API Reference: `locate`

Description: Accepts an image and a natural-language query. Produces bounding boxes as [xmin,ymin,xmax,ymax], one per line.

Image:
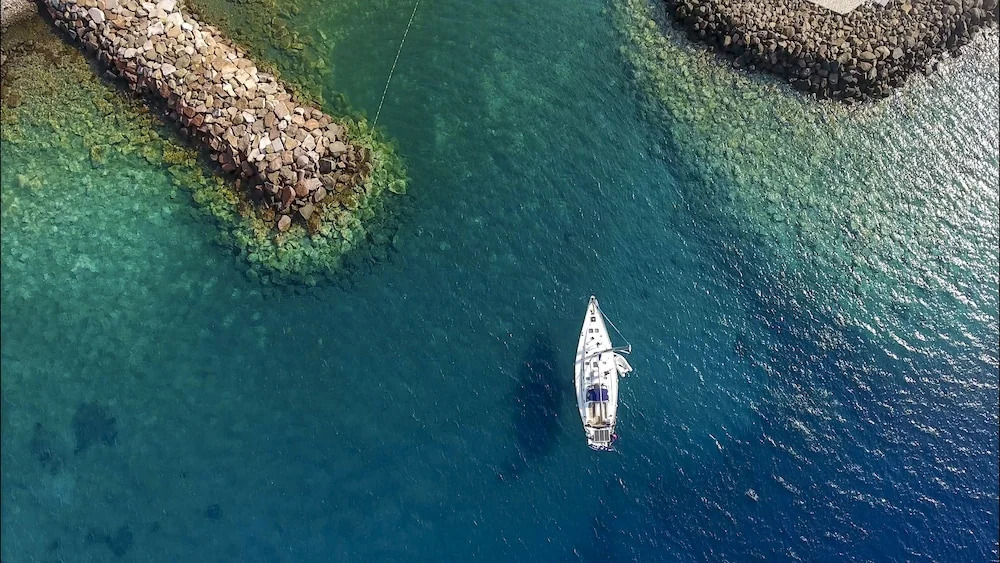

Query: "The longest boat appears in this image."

[572,294,631,452]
